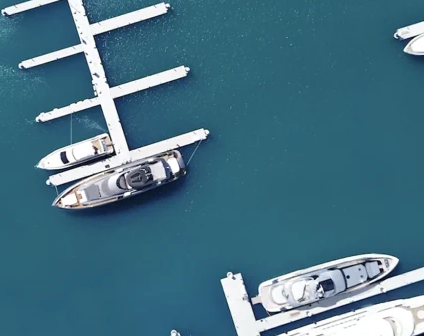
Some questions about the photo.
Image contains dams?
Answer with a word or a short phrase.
No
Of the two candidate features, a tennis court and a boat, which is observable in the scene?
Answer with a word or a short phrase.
boat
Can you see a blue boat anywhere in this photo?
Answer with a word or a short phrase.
No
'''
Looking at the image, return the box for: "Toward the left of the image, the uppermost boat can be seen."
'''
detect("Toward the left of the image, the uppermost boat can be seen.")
[38,118,114,168]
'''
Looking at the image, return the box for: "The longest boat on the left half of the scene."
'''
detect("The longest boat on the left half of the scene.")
[53,138,202,206]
